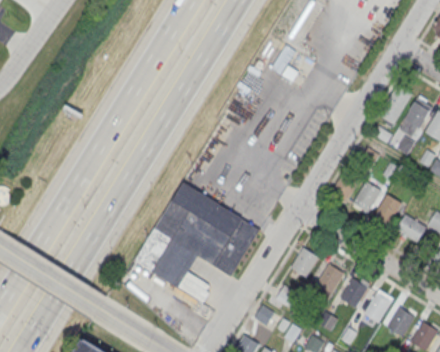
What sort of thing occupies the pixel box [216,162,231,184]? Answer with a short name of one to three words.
vehicle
